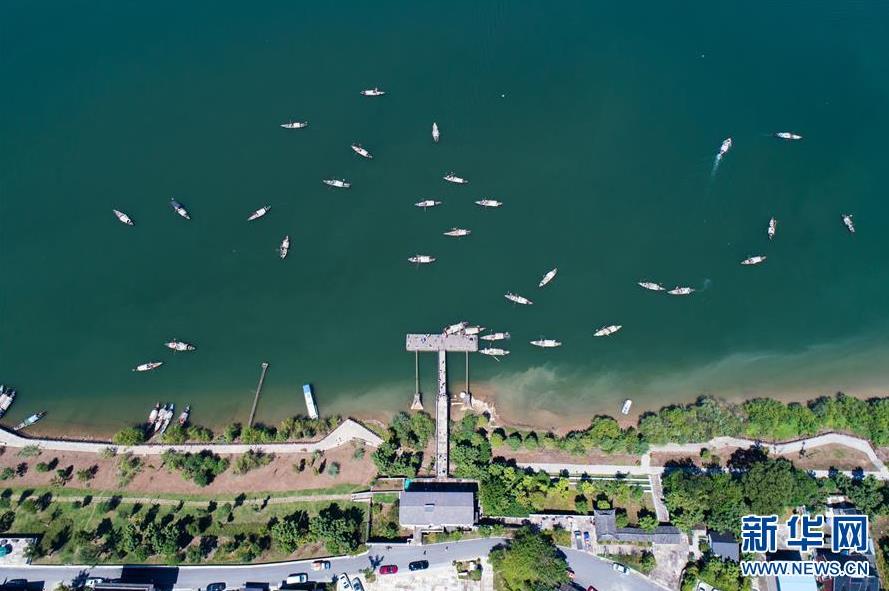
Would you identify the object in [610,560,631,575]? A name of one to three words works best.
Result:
car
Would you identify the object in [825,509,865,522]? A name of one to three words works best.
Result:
house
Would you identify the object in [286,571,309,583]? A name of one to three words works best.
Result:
vehicle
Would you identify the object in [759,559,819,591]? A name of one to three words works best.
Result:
building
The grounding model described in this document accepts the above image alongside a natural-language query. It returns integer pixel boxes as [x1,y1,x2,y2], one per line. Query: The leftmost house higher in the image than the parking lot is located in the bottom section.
[398,490,474,528]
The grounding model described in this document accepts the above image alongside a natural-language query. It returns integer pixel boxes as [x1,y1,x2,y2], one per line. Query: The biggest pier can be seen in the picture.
[406,334,477,351]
